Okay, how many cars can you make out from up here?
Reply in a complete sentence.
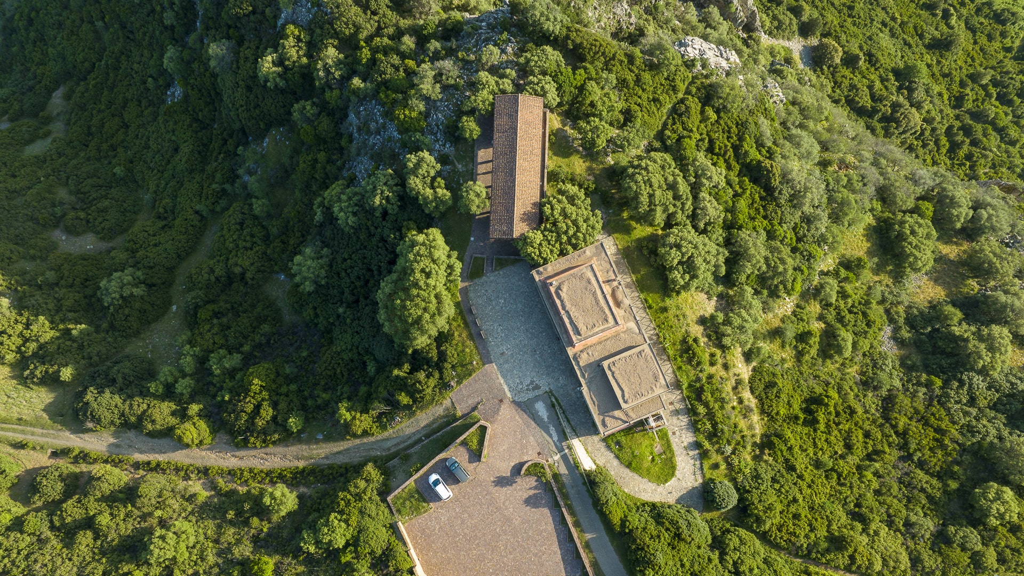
The count of cars comes to 2.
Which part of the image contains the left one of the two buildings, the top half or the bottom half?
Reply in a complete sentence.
The top half of the photo is where the left one of the two buildings is.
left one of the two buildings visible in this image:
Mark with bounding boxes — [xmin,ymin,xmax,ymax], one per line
[488,93,544,238]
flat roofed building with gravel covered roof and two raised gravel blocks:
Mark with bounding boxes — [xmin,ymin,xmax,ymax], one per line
[528,243,676,437]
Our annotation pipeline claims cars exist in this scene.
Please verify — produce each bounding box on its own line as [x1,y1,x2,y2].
[430,472,453,503]
[447,455,471,486]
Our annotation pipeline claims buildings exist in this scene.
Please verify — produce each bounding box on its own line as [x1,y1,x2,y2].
[528,243,676,437]
[488,93,544,238]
